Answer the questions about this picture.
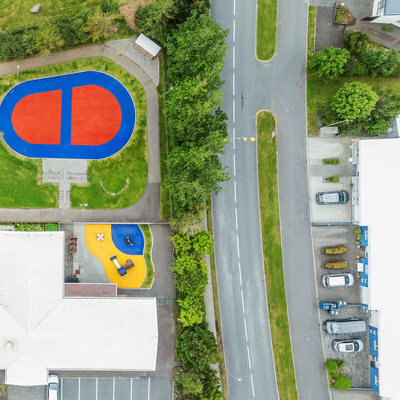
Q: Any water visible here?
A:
No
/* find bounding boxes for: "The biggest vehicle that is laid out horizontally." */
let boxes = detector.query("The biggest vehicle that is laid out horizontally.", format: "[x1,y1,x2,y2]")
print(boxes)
[323,317,371,335]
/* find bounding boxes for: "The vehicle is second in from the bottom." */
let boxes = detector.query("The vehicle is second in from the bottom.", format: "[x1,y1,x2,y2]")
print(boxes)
[331,338,364,354]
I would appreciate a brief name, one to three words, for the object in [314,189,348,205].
car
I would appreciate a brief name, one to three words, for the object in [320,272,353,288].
car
